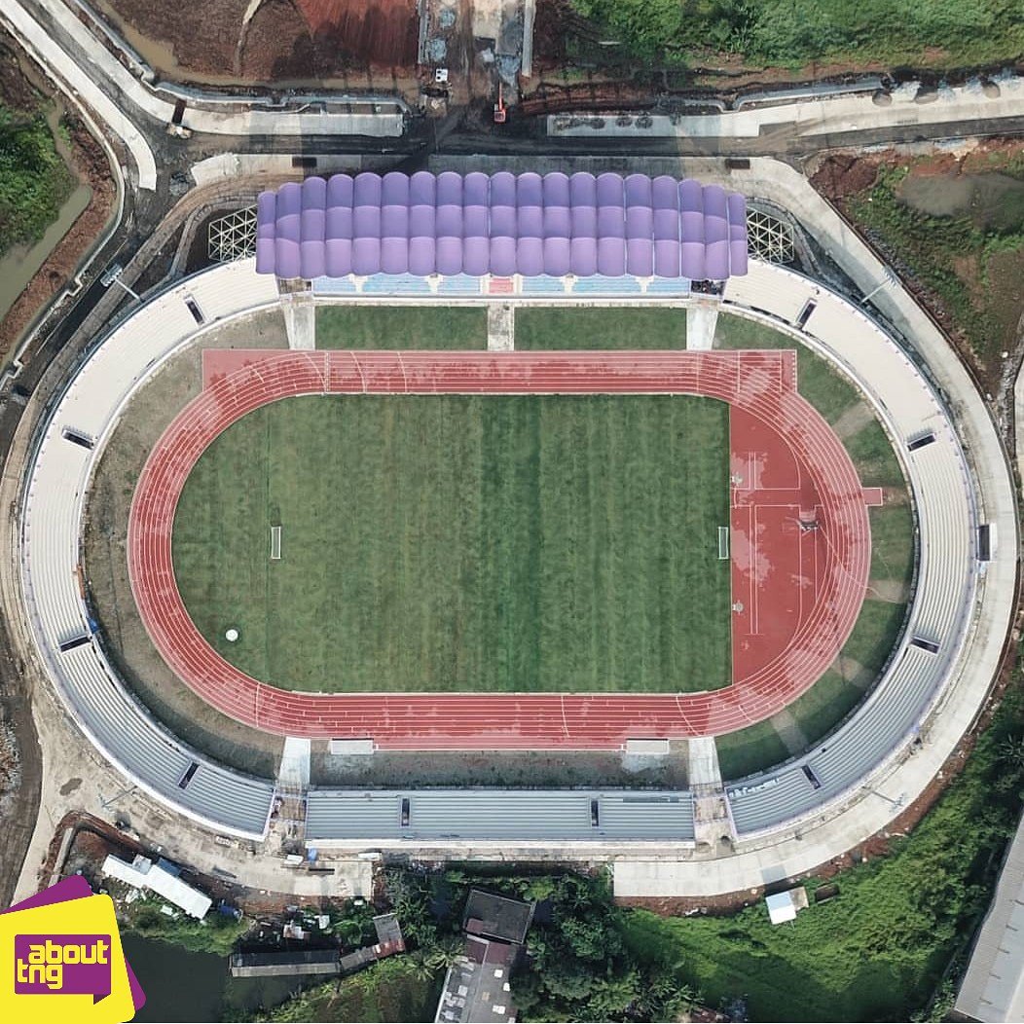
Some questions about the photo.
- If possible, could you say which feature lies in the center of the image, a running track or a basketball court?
running track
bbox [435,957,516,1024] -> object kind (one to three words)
house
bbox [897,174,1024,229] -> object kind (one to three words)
pond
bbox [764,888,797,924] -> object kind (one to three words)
shed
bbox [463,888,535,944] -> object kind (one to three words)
house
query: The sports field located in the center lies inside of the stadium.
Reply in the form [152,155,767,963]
[175,395,733,691]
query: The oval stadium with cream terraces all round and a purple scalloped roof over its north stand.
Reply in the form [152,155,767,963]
[16,170,994,851]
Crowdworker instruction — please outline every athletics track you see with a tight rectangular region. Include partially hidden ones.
[127,348,883,755]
